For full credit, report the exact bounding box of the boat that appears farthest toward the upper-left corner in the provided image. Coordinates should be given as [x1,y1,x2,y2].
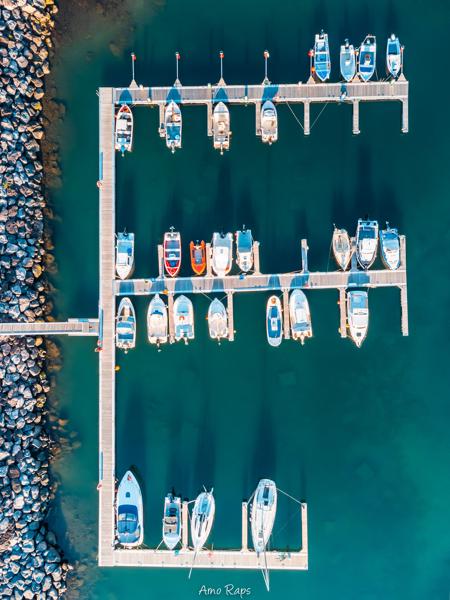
[114,104,134,163]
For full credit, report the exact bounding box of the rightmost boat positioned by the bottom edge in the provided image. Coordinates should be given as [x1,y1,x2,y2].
[248,474,277,592]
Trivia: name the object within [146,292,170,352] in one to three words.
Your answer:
boat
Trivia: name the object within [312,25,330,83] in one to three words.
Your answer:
boat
